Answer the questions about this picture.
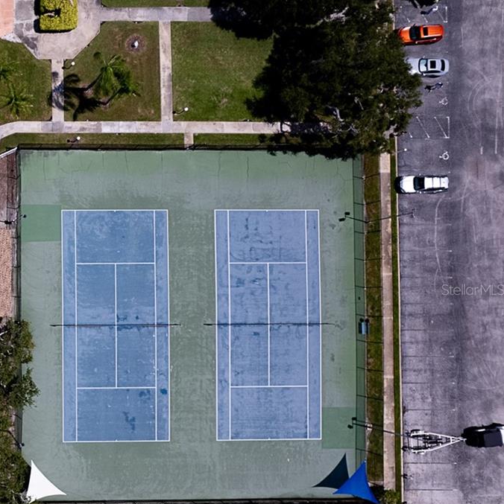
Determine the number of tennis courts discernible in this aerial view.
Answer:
2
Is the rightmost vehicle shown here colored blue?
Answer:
No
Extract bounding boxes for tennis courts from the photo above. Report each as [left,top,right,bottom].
[51,210,183,443]
[205,210,336,441]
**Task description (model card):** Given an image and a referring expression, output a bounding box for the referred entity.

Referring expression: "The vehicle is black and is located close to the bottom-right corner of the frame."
[464,426,504,447]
